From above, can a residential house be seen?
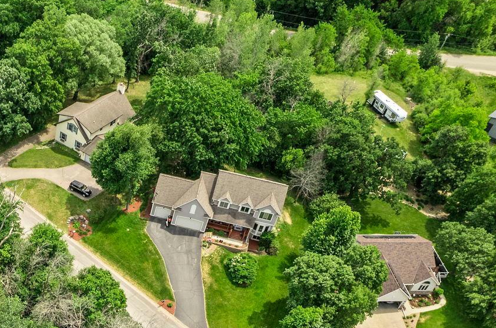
Yes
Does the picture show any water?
No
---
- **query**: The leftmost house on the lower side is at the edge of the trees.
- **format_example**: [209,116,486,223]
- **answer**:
[152,168,289,253]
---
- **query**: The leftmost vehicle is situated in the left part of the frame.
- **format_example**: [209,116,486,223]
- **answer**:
[67,180,93,199]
